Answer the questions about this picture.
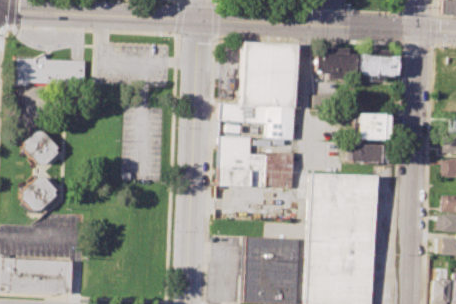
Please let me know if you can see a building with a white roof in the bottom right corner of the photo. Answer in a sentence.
Yes, a building with a white roof is visible in the bottom right corner of the photo.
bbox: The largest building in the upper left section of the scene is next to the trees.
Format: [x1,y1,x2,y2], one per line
[12,54,85,88]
